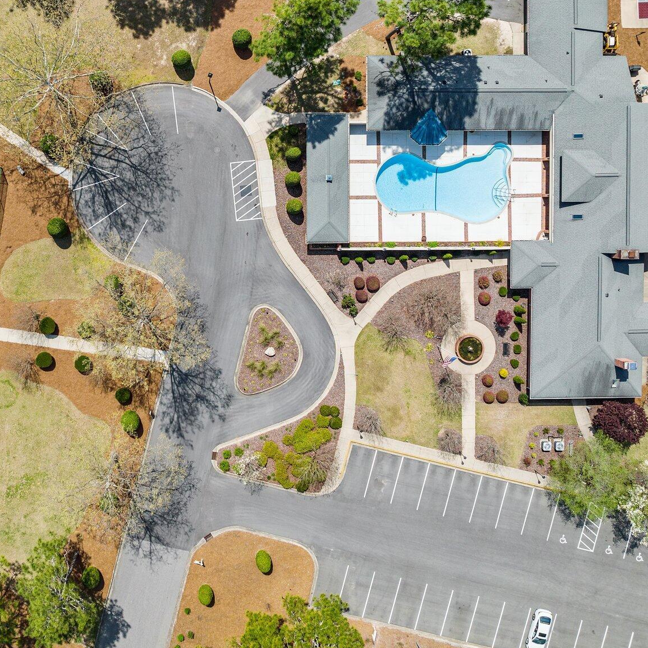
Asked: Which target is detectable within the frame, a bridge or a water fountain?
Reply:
water fountain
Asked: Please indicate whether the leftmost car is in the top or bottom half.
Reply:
bottom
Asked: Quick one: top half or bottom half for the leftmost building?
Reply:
top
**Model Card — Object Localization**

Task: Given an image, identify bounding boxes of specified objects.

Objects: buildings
[365,0,648,399]
[305,113,349,244]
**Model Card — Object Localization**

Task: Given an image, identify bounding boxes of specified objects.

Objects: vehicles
[526,608,550,648]
[601,20,620,55]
